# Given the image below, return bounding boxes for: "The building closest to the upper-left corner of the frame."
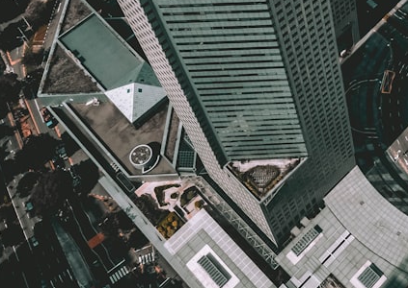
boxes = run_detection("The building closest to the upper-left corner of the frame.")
[37,0,202,198]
